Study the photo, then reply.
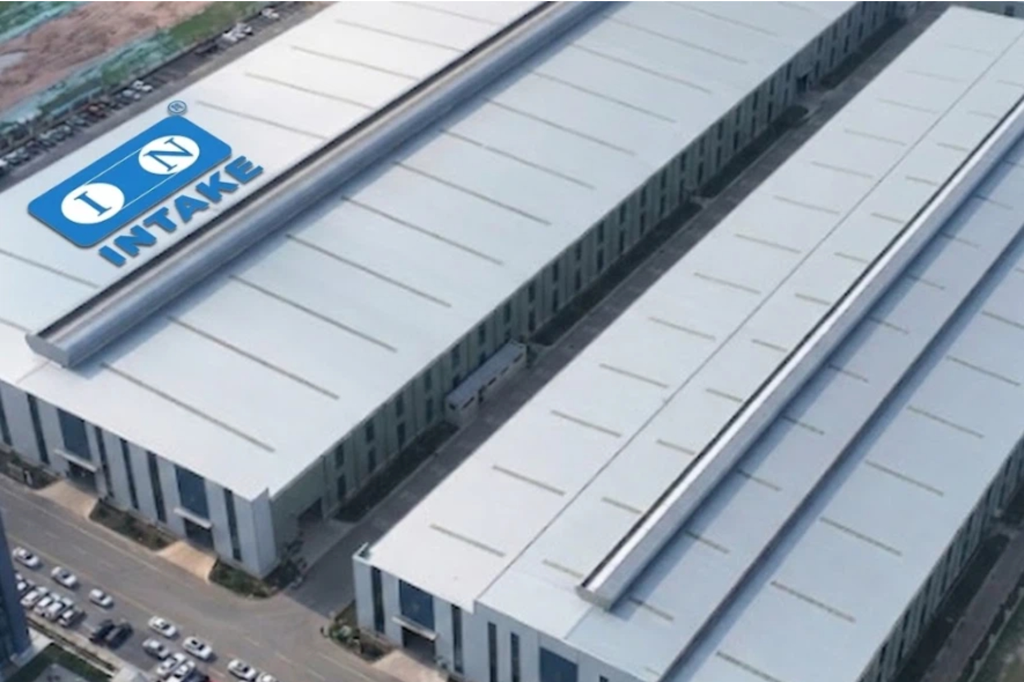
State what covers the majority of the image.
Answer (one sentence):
The largest share of the image is taken up by buildings.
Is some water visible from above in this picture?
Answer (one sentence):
No, there's no water in this view.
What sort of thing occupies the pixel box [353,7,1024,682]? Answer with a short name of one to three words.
building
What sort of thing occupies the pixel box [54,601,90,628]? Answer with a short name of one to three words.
car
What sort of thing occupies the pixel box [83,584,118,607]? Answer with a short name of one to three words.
car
